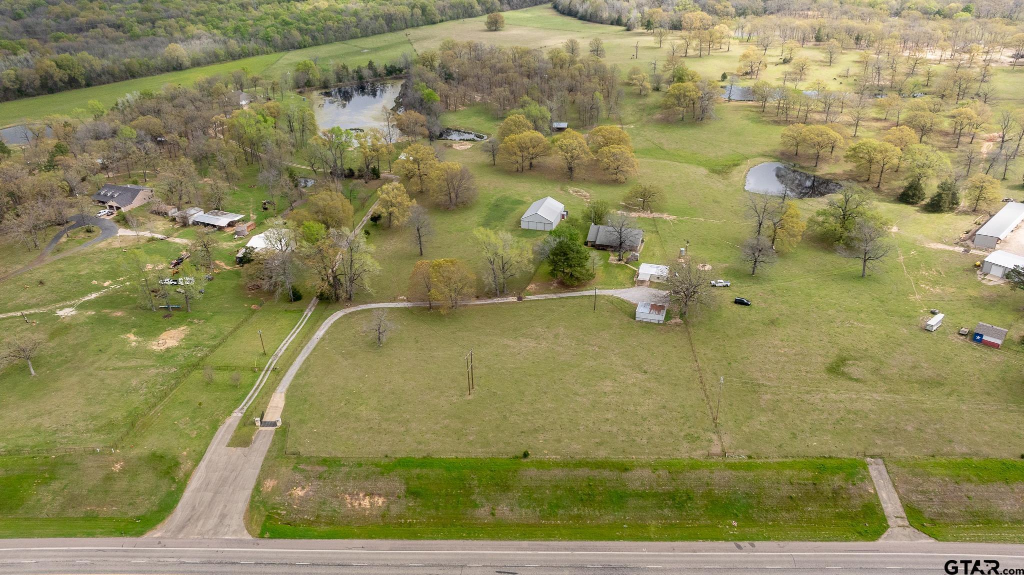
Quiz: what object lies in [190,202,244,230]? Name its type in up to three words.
building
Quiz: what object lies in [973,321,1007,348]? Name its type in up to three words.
shed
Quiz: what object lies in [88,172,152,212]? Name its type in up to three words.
house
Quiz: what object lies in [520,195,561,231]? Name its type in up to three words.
barn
